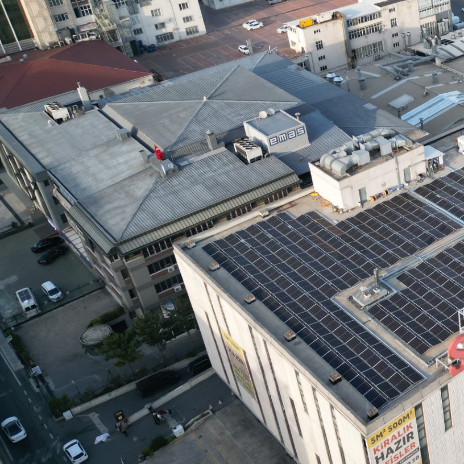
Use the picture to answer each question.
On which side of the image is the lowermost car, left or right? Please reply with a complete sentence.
The lowermost car is on the left side of the image.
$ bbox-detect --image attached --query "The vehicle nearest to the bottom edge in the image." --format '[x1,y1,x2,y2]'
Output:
[61,435,90,464]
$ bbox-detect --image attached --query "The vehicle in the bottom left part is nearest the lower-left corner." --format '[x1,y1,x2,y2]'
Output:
[0,413,26,443]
